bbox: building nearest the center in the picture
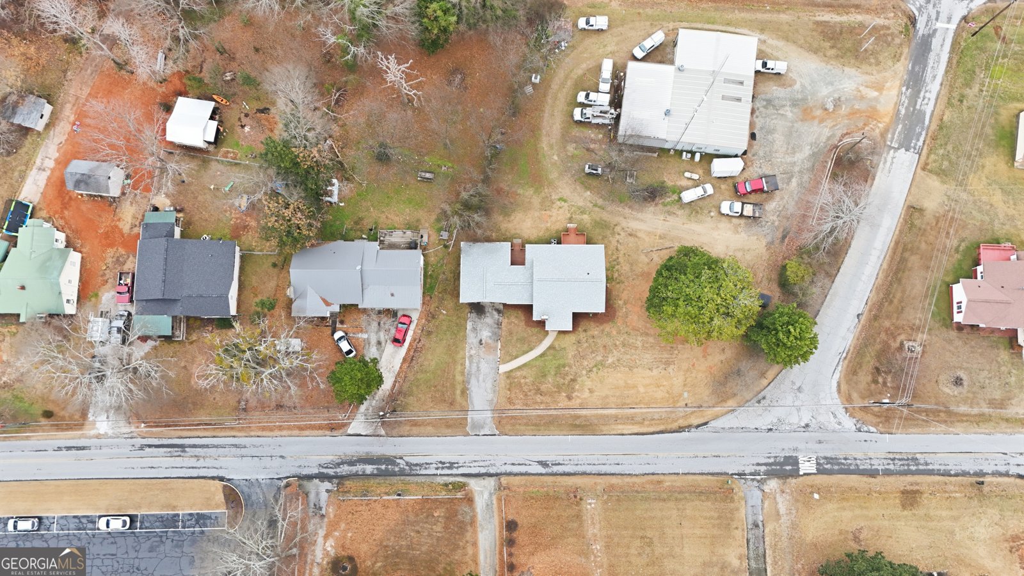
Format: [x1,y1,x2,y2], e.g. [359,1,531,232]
[460,240,607,331]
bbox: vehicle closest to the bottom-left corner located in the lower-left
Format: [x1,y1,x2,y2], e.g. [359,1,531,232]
[8,516,42,532]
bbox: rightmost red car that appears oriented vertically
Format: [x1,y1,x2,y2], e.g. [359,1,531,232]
[393,314,411,348]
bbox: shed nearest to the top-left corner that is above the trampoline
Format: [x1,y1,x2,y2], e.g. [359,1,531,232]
[1,94,56,135]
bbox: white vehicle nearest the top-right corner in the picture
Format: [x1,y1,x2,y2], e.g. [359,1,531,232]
[755,58,788,76]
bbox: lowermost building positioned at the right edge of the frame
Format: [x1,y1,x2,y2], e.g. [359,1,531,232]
[947,252,1024,345]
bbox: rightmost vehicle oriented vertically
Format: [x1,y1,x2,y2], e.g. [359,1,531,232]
[597,57,615,92]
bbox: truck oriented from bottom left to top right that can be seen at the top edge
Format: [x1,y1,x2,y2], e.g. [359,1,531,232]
[631,27,667,61]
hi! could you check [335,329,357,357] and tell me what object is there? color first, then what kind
white car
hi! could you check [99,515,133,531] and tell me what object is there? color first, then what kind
white car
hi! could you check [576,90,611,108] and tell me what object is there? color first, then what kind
white vehicle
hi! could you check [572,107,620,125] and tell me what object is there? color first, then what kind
white vehicle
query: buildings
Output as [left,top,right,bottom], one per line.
[460,240,607,331]
[166,97,222,151]
[947,252,1024,345]
[0,217,83,322]
[1014,113,1024,170]
[133,211,243,340]
[549,20,572,44]
[286,240,423,317]
[1,94,56,135]
[617,28,758,156]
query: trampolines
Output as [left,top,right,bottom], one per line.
[0,197,36,235]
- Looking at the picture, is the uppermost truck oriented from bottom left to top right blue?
No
